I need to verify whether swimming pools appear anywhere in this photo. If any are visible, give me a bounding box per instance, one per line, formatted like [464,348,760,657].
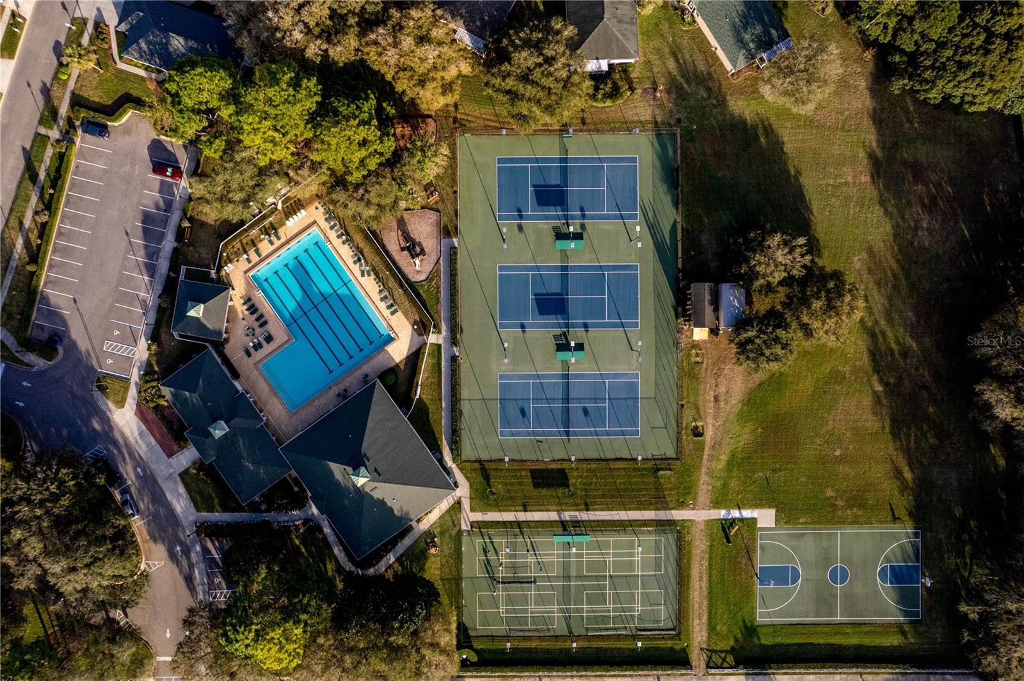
[241,221,402,421]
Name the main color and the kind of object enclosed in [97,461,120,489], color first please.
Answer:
black car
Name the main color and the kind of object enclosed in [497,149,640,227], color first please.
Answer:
blue tennis court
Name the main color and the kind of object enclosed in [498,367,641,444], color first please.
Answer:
blue tennis court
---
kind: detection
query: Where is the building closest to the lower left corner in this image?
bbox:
[158,349,293,507]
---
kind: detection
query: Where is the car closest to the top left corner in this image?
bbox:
[78,120,108,138]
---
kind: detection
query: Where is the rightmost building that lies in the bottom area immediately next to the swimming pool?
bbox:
[278,378,457,563]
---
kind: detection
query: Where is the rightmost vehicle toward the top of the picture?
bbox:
[150,162,180,180]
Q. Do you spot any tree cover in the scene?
Yes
